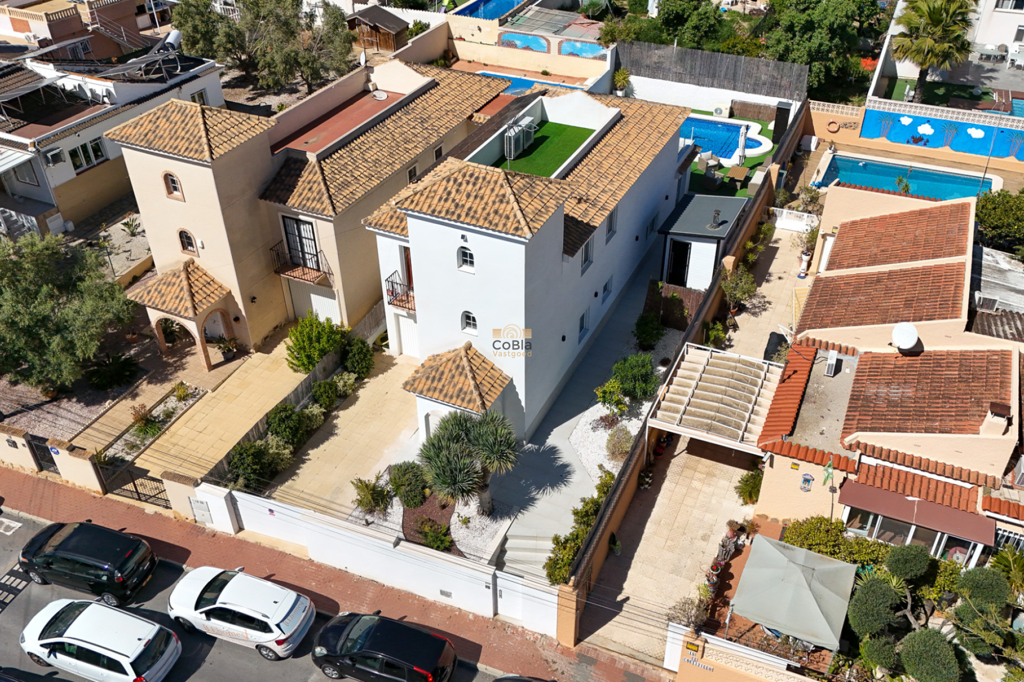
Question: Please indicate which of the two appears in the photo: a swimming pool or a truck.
swimming pool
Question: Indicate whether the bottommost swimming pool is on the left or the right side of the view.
right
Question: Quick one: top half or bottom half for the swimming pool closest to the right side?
top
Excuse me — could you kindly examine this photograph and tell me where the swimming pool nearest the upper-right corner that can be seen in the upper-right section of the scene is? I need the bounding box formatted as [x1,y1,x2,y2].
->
[991,99,1024,129]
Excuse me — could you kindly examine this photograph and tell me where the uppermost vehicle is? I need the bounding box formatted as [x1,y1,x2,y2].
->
[17,518,169,612]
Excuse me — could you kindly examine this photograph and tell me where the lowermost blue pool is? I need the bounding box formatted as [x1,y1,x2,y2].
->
[817,147,1006,216]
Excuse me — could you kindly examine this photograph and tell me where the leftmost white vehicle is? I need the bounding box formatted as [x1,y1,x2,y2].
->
[19,596,186,682]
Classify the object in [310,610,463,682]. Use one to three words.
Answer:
car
